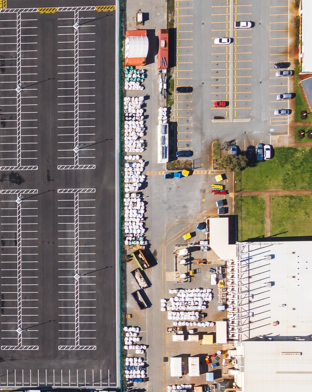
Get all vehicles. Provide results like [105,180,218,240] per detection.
[277,94,292,100]
[177,86,192,93]
[263,145,271,160]
[274,62,289,69]
[214,101,227,108]
[255,144,262,160]
[276,69,291,77]
[246,146,254,161]
[274,110,289,116]
[233,21,251,28]
[177,150,192,157]
[215,37,230,44]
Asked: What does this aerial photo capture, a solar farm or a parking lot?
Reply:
parking lot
